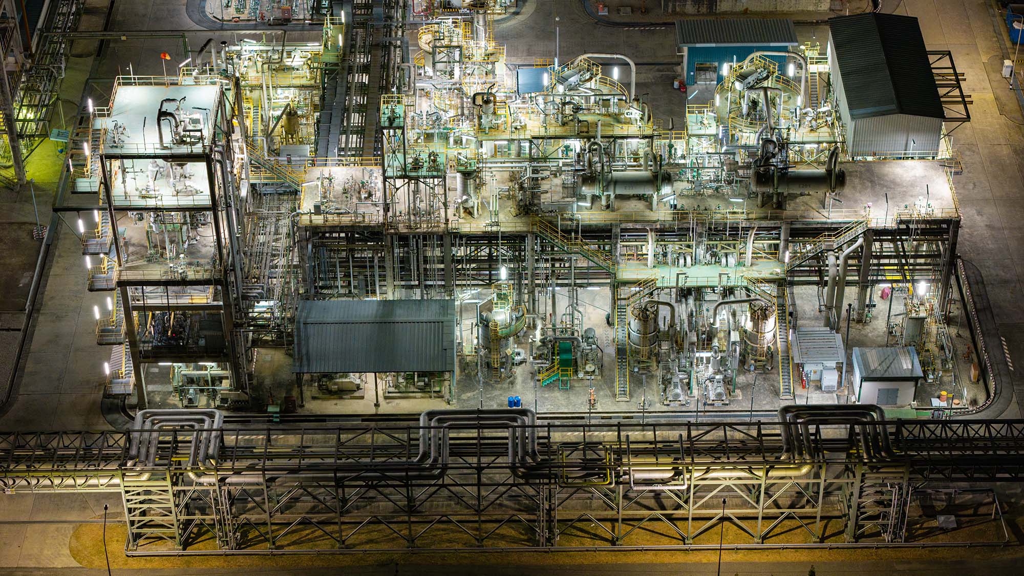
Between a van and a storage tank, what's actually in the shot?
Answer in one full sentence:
The image shows a storage tank.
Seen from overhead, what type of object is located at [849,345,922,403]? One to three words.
shed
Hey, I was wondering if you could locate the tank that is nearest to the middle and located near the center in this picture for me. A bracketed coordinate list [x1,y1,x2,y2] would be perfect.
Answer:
[470,282,523,387]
